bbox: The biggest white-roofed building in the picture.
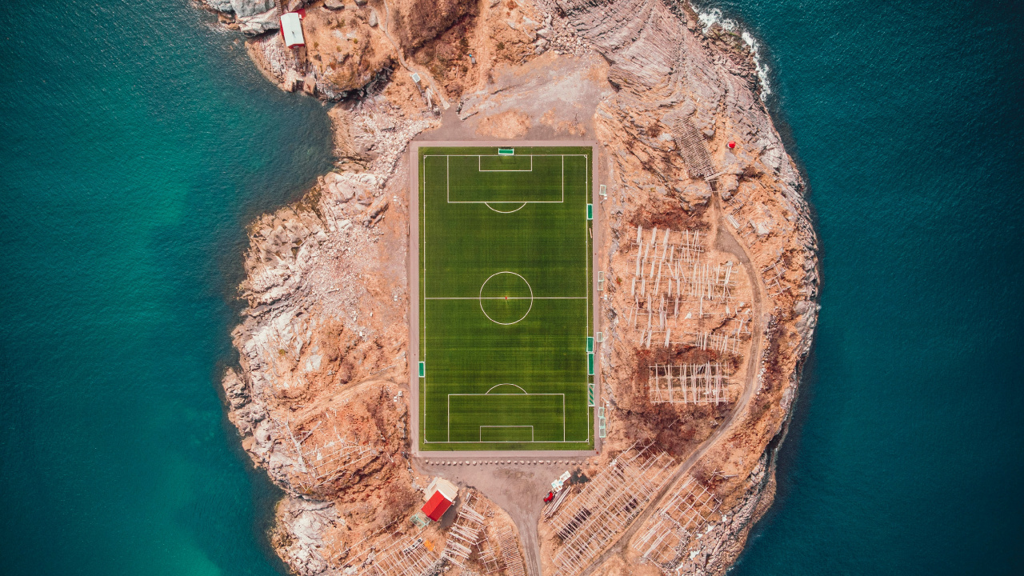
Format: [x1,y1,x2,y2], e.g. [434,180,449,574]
[280,7,308,50]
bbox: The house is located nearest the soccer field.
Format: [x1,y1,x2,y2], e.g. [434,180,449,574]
[422,476,459,521]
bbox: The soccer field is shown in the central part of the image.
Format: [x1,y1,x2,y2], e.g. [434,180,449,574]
[408,140,600,457]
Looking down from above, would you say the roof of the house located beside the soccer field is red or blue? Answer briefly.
red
